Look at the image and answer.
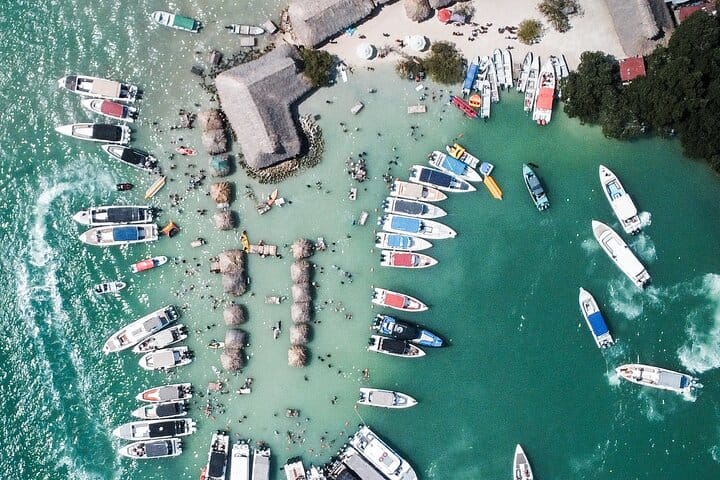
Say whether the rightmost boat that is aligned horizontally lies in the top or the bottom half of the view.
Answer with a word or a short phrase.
bottom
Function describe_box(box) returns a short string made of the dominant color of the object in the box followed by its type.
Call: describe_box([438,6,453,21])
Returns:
red umbrella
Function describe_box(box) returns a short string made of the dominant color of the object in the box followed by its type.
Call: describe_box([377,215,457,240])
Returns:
white boat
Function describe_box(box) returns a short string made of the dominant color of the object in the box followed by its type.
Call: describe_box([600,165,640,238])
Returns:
white boat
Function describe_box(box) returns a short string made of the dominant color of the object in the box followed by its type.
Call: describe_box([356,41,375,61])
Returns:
white umbrella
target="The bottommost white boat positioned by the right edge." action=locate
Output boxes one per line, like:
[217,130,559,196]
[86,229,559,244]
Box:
[616,367,698,390]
